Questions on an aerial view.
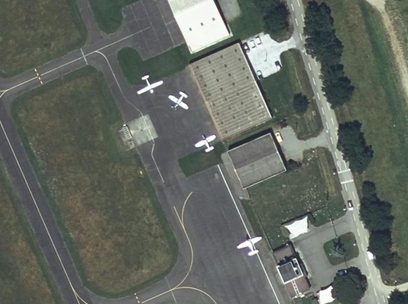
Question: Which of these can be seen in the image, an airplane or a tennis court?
airplane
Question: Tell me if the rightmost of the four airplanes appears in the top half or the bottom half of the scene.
bottom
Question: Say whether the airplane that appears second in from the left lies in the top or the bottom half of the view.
top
